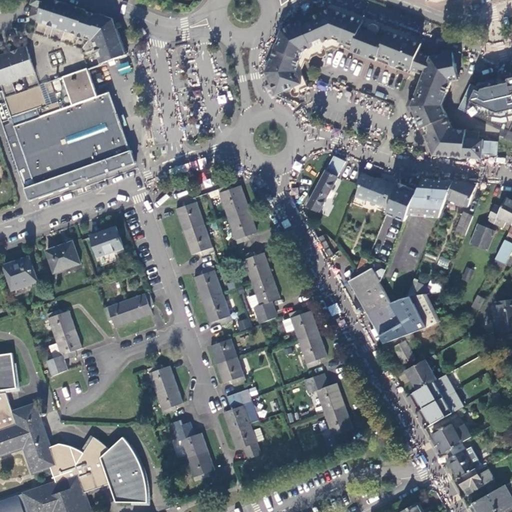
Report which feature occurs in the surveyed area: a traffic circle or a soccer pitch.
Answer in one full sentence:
Of the two, only a traffic circle appears.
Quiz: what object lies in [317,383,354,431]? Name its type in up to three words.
house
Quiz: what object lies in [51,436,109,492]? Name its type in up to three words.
building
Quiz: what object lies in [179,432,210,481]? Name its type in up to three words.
house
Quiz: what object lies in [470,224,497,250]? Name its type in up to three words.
building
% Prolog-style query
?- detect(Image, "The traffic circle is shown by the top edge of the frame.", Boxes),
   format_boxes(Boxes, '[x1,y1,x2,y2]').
[214,0,274,39]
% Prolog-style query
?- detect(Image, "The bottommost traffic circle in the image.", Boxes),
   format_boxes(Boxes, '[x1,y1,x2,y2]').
[240,108,300,168]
